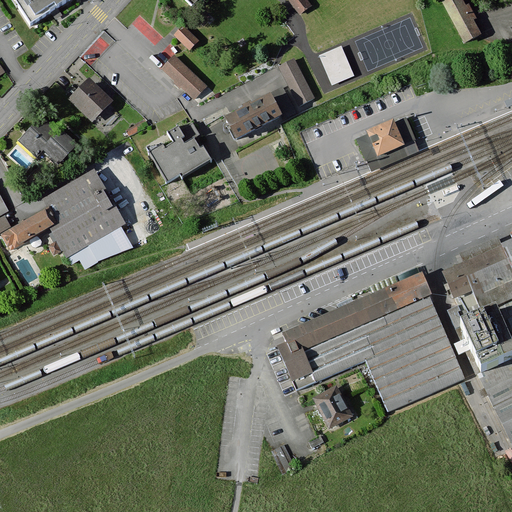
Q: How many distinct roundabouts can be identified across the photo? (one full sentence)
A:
There are no roundabouts in the image.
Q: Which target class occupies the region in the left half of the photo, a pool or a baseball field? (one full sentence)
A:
There is a pool in the left half of the photo.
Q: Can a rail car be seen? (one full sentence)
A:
Yes, the frame does contain a rail car.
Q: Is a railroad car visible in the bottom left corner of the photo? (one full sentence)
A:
Yes, a railroad car can be seen in the bottom left corner of the photo.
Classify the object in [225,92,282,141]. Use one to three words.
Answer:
house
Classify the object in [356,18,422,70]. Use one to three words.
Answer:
sports court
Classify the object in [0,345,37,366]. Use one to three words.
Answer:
rail car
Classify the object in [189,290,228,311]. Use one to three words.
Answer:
rail car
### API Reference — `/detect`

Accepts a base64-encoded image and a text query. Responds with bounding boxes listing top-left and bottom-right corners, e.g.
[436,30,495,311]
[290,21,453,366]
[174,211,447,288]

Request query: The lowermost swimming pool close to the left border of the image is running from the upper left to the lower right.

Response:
[15,257,38,284]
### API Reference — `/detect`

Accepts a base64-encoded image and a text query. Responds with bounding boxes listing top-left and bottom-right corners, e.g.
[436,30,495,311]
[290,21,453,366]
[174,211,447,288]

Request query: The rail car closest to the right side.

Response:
[414,164,454,186]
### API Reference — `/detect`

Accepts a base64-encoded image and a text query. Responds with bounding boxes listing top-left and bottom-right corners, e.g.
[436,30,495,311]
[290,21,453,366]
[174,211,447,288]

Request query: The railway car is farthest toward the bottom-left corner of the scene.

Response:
[4,370,44,390]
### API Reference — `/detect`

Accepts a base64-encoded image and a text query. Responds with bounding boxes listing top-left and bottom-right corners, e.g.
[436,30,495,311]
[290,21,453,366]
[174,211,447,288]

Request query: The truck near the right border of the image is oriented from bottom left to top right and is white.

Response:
[470,181,506,208]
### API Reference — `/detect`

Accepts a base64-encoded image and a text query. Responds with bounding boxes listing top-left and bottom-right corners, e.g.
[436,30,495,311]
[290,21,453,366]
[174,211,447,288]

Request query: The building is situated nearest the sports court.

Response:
[319,46,354,86]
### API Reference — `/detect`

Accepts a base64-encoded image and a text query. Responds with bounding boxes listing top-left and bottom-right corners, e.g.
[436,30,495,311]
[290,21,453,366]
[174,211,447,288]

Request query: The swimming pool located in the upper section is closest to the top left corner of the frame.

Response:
[8,148,32,170]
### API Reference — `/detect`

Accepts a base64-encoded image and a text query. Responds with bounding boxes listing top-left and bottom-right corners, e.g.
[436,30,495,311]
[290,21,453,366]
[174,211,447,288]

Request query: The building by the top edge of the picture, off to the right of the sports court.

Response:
[444,0,482,44]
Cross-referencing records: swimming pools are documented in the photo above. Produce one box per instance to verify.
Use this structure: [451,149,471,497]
[342,426,354,436]
[15,257,38,284]
[8,148,32,170]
